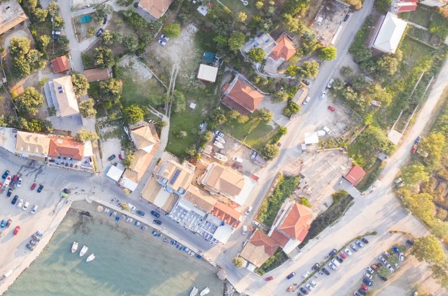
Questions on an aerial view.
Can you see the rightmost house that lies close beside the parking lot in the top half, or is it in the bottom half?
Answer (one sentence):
Seen from above, the rightmost house that lies close beside the parking lot lies in the bottom half of the view.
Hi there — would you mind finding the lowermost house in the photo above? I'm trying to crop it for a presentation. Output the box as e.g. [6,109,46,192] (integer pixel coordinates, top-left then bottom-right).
[236,229,281,268]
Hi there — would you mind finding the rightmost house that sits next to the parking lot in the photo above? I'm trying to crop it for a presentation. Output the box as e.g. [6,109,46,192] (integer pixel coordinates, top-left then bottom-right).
[265,201,315,256]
